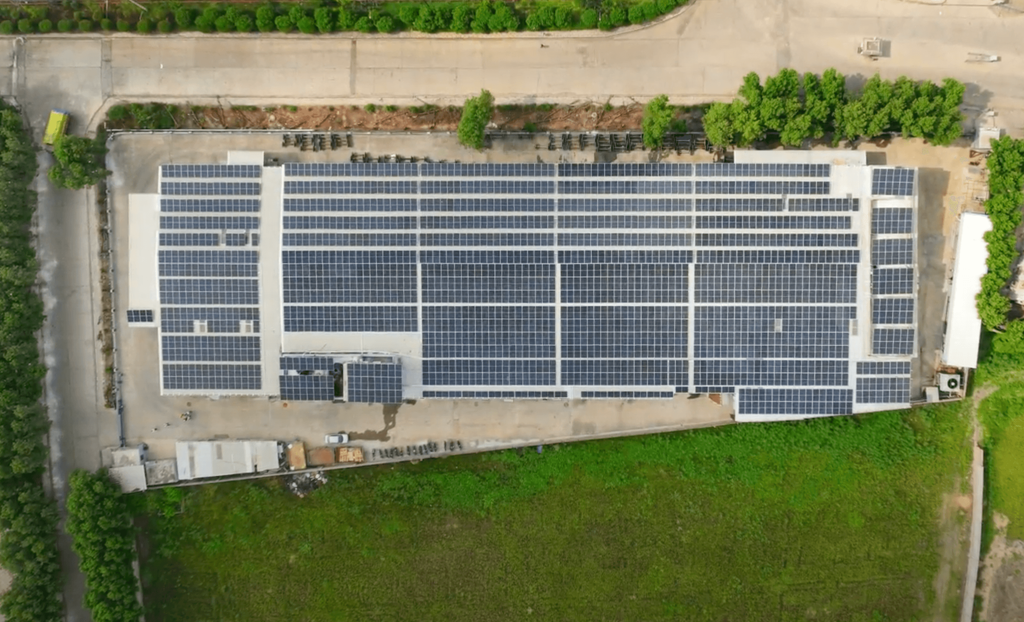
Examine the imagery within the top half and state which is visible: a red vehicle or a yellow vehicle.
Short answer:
yellow vehicle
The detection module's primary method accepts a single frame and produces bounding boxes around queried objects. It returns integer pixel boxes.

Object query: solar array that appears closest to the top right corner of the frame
[872,169,914,195]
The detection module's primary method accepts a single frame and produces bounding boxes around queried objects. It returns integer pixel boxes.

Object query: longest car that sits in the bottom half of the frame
[324,434,348,446]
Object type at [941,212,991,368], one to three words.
shed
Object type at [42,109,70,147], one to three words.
truck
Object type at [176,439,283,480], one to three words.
shed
